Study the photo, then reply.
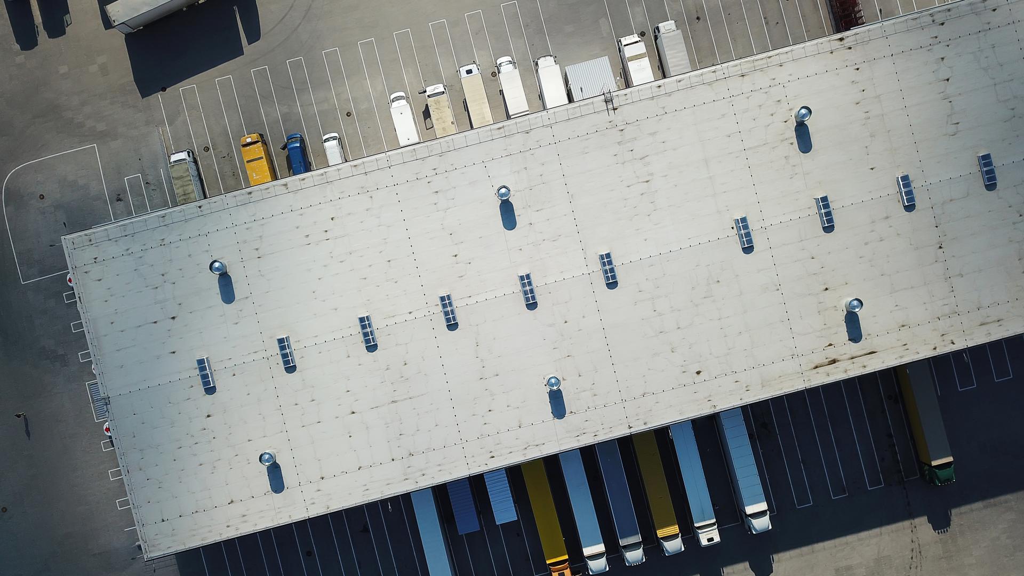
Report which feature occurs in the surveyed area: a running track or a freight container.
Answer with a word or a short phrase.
freight container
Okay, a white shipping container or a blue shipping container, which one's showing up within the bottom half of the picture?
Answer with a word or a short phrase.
blue shipping container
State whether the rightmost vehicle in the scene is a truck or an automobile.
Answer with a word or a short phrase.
truck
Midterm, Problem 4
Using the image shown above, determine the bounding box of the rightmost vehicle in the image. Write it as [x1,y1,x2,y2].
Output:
[892,359,955,486]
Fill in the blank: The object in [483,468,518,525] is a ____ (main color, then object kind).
blue shipping container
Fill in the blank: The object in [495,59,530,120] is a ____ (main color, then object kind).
white truck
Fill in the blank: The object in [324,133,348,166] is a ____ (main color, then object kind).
white vehicle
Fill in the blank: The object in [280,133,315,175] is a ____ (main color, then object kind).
blue van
